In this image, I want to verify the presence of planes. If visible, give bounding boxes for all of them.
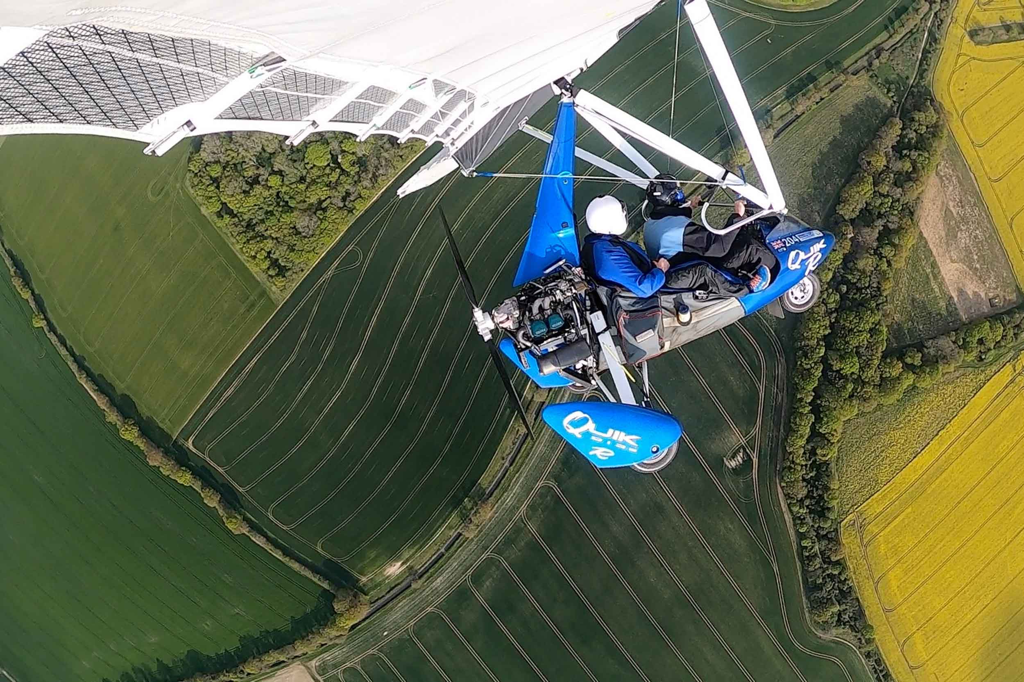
[0,0,835,472]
